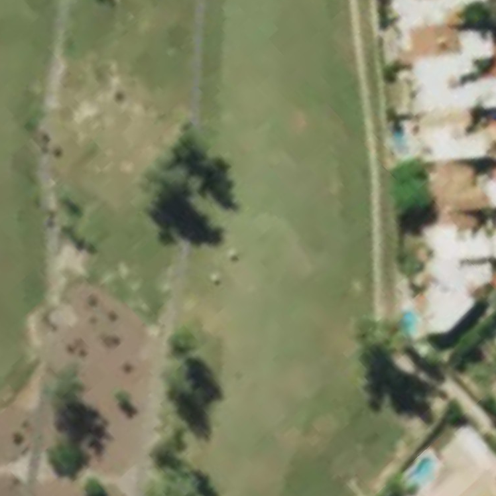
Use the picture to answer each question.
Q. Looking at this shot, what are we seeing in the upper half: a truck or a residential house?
residential house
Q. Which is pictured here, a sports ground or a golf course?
golf course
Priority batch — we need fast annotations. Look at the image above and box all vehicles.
[209,273,218,282]
[227,249,235,257]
